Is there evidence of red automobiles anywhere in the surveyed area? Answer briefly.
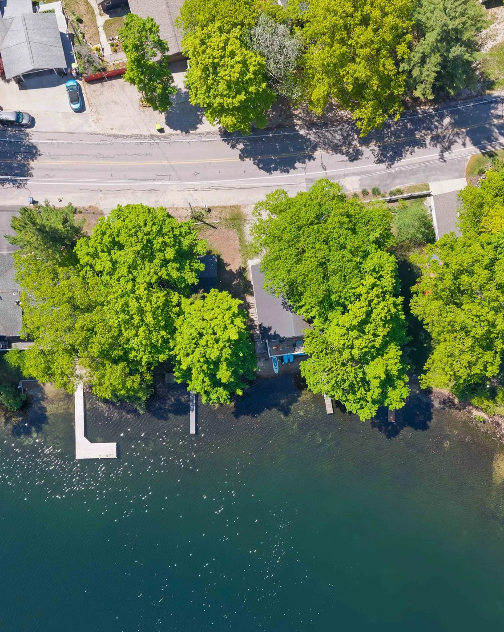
No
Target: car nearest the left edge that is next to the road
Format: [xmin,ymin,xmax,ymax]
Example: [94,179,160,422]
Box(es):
[0,110,30,128]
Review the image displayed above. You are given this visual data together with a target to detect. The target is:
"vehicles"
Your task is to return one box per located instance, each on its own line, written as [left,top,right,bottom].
[65,80,84,112]
[0,110,30,128]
